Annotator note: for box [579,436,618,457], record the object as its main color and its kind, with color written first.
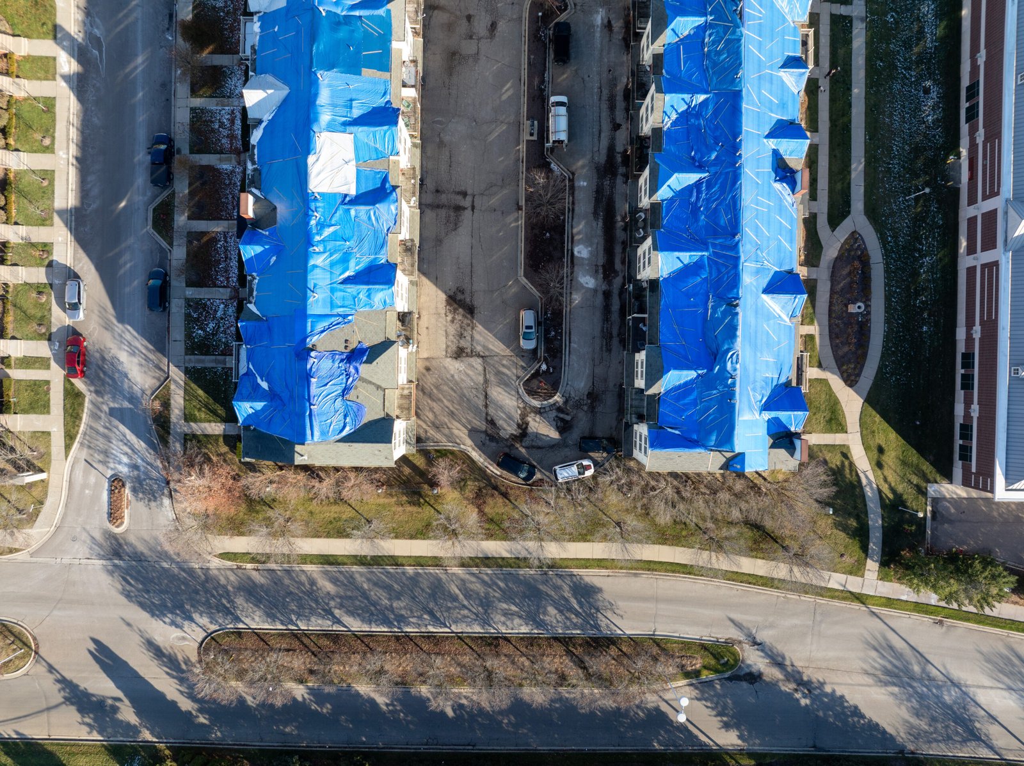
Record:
black car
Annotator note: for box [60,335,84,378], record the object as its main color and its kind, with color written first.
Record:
red car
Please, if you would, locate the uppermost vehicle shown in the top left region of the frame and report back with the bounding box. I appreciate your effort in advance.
[145,131,170,185]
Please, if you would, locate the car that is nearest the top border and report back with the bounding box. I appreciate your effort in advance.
[551,17,573,63]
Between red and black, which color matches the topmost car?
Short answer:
black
